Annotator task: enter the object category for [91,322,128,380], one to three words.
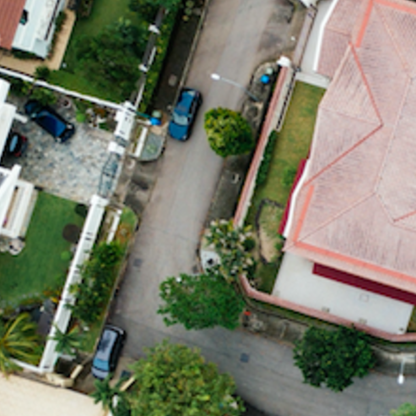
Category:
car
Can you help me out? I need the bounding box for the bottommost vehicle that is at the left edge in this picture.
[4,130,31,157]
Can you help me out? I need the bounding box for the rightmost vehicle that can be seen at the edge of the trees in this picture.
[167,86,202,142]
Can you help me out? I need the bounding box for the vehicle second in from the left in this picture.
[23,99,81,142]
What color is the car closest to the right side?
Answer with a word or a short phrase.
blue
